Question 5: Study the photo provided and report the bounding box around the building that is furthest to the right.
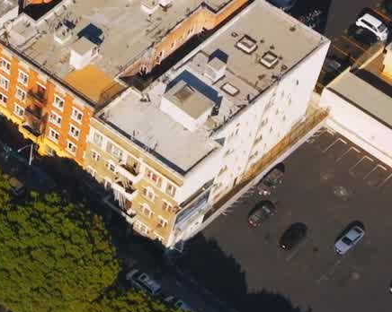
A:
[312,68,392,169]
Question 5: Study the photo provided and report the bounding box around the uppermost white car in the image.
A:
[358,10,389,40]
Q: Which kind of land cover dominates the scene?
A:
buildings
